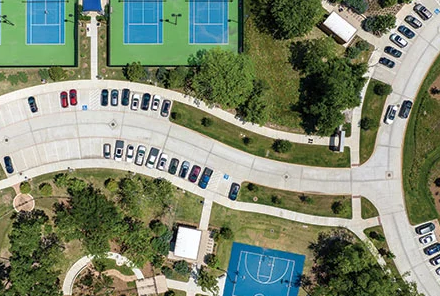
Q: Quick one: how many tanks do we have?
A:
0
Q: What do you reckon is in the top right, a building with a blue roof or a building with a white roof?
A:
building with a white roof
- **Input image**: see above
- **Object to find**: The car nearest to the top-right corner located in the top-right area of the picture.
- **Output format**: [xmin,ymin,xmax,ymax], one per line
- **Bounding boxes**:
[413,4,432,21]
